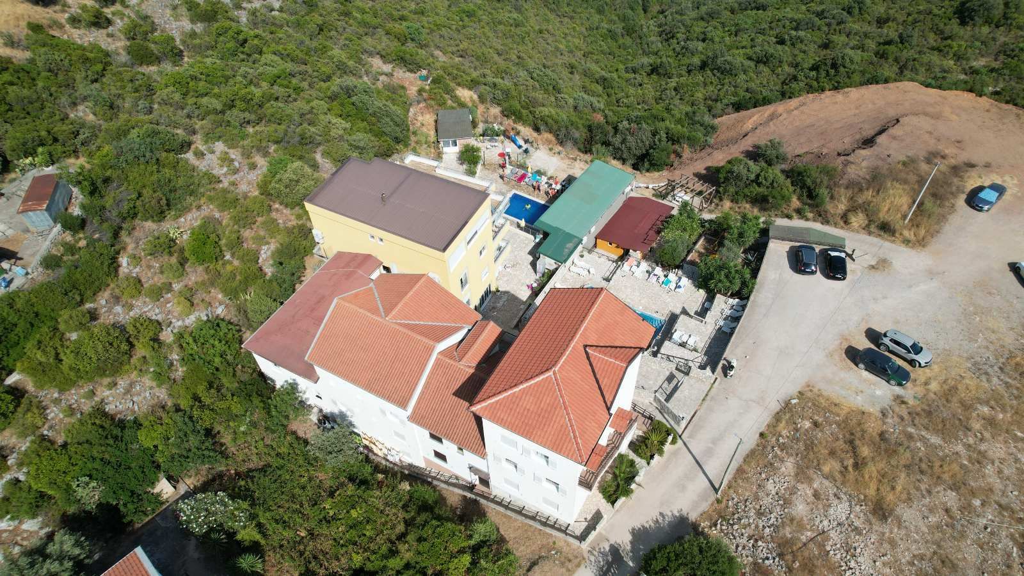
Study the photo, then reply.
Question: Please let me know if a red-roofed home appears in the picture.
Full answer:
Yes, the picture does show a red-roofed home.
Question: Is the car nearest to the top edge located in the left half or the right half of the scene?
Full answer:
The car nearest to the top edge is on the right side of the image.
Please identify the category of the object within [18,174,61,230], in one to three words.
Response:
shed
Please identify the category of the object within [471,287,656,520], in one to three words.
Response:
house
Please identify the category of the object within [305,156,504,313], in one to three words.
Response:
building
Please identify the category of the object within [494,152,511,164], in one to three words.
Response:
umbrella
